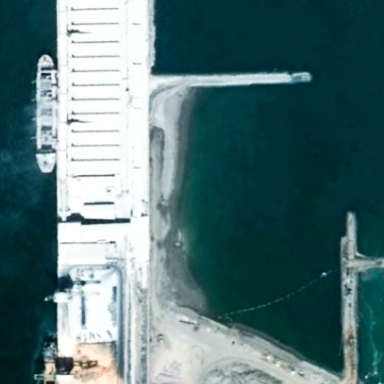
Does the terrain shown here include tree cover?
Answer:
No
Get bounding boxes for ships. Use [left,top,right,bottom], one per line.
[34,54,56,173]
[44,342,56,384]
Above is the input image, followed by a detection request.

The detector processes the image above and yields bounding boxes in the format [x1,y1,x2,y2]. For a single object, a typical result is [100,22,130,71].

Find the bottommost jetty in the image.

[340,212,384,383]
